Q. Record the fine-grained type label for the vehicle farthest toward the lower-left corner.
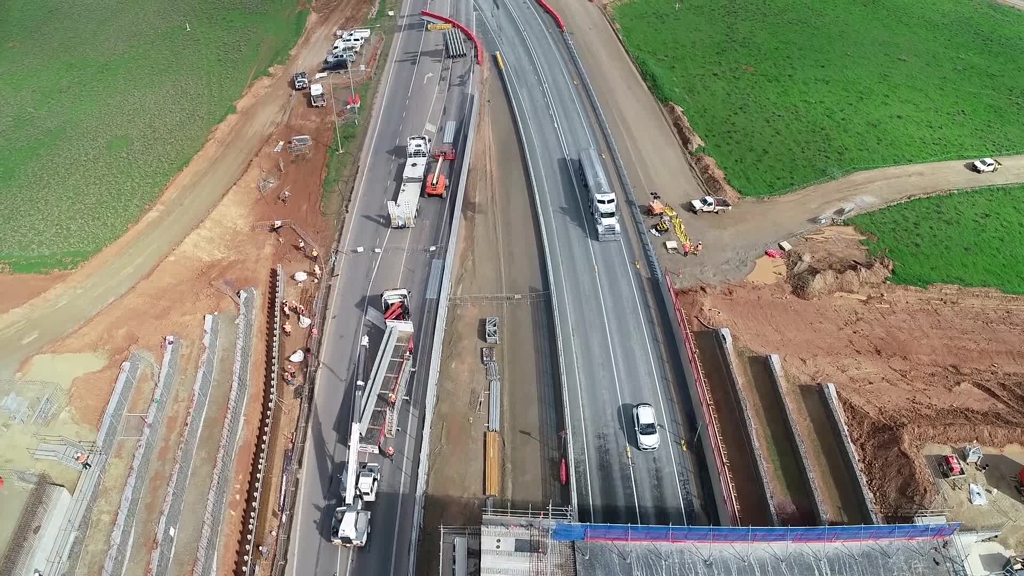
truck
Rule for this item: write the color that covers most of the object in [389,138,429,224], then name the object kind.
white vehicle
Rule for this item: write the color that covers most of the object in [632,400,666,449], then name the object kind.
white car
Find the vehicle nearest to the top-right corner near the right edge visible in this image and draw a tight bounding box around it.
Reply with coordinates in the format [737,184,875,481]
[971,153,1009,173]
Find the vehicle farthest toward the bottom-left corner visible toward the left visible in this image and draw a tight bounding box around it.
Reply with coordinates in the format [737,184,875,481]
[349,279,416,449]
